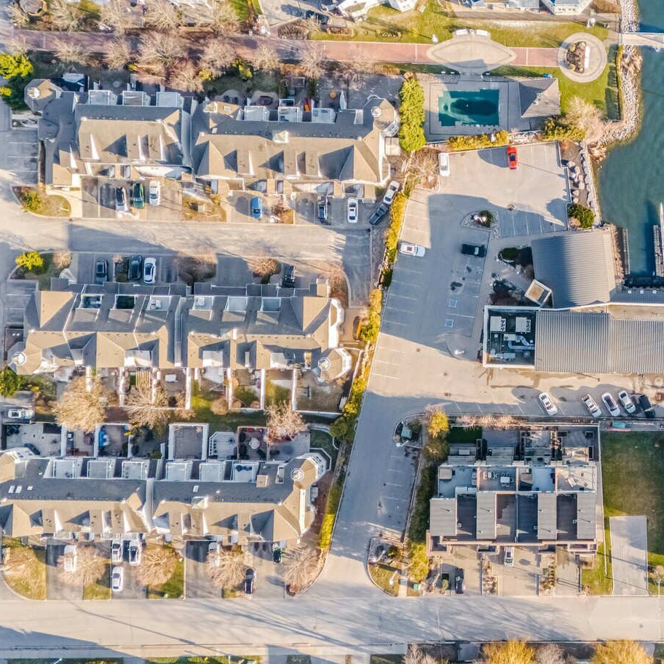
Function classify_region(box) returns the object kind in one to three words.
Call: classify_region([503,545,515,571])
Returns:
vehicle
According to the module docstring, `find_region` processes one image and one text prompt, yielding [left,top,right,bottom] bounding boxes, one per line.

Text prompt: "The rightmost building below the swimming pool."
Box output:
[482,232,664,375]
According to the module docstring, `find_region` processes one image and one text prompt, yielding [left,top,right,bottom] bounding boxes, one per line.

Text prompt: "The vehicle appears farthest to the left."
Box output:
[8,408,35,421]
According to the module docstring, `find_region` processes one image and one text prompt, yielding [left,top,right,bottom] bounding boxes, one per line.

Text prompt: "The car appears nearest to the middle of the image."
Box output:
[282,264,296,287]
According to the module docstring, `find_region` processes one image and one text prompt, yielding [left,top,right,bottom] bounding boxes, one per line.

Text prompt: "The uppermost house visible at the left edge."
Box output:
[25,81,199,190]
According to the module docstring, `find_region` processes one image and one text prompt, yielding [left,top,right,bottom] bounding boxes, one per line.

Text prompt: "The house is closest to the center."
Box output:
[181,282,356,382]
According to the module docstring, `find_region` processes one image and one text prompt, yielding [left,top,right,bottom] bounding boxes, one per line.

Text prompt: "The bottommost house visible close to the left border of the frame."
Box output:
[0,447,167,545]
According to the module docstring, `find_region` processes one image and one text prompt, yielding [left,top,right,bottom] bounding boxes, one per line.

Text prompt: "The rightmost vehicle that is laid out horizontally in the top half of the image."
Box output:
[459,244,489,257]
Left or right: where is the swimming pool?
right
